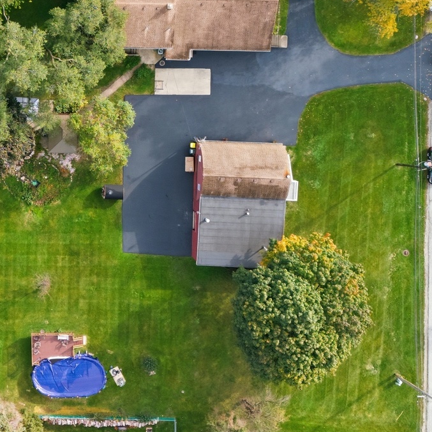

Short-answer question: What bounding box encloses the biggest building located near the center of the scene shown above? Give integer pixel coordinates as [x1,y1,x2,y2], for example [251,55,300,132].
[193,138,300,267]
